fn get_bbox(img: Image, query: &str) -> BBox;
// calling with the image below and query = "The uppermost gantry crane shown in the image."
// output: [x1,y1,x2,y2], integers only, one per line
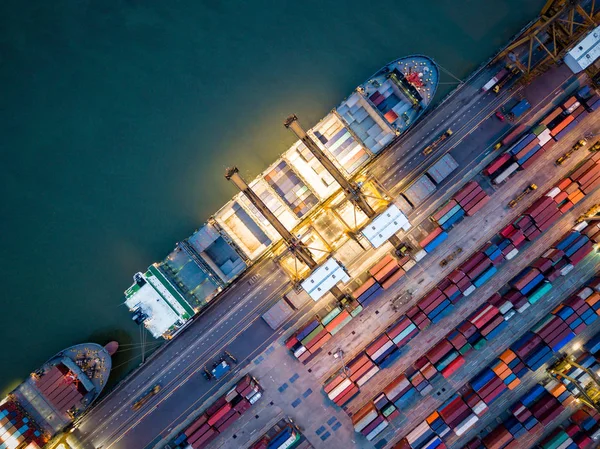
[490,0,600,89]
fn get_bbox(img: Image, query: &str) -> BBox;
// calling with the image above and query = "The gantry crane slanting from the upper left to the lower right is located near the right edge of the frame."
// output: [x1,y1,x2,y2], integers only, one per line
[547,353,600,414]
